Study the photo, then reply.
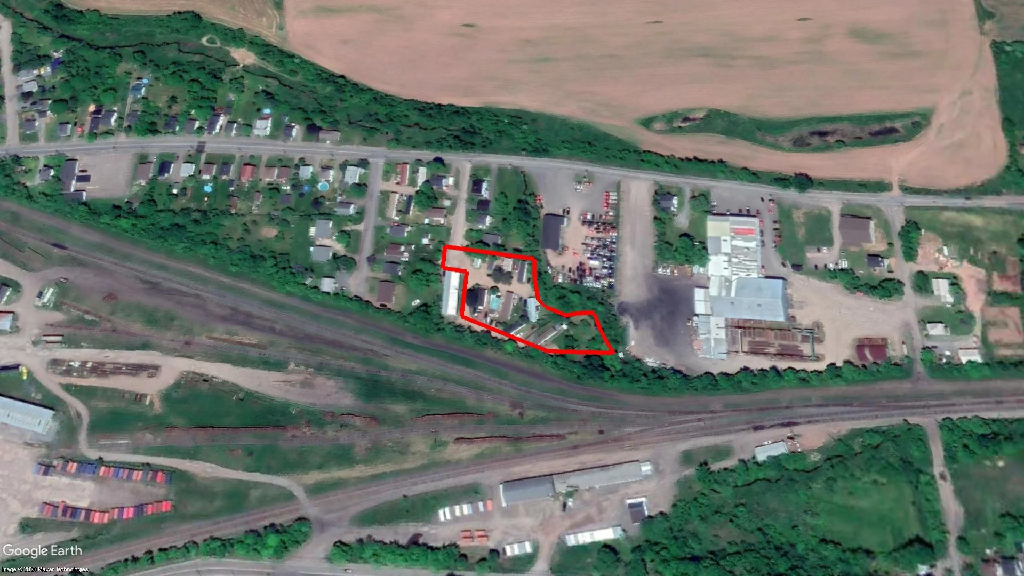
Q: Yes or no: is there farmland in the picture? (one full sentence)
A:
Yes, there is farmland in the image.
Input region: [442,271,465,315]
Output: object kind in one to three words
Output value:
barn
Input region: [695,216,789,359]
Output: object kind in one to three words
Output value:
building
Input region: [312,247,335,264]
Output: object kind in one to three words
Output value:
house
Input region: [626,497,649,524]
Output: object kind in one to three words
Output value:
shed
